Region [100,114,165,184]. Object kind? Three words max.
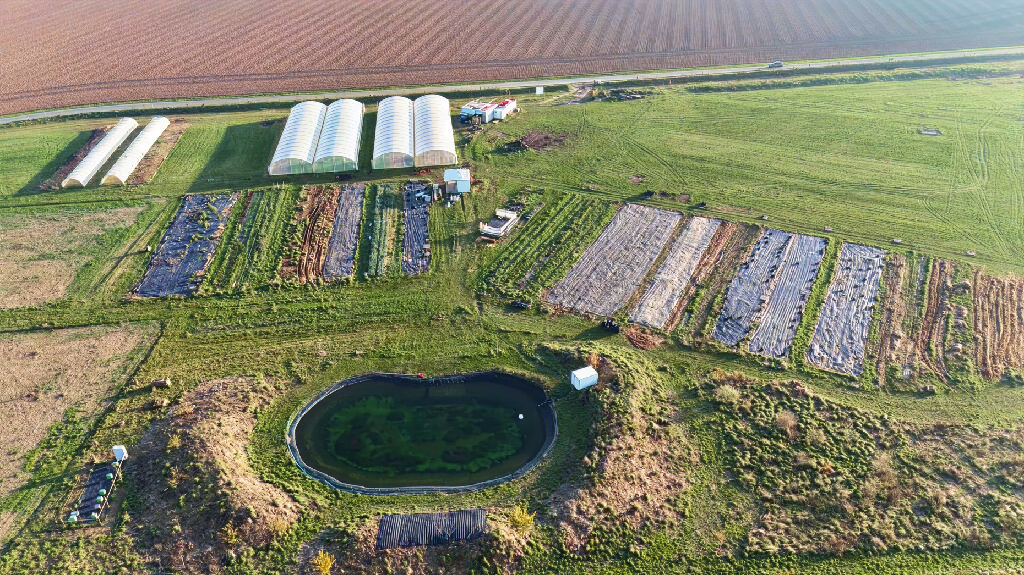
greenhouse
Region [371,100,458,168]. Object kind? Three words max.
greenhouse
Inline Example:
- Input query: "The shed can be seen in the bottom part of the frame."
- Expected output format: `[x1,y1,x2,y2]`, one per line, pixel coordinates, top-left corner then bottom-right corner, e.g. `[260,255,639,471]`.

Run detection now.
[570,362,599,390]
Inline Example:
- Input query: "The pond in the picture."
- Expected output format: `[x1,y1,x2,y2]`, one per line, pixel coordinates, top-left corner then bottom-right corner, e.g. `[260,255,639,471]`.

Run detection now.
[302,383,545,491]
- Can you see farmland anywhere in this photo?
Yes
